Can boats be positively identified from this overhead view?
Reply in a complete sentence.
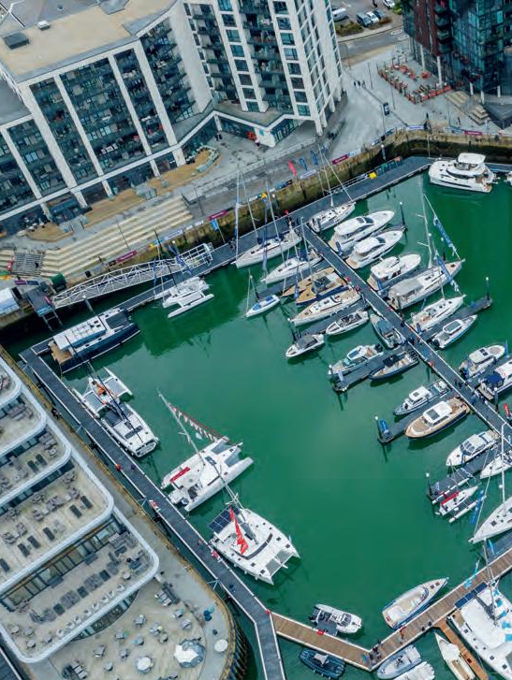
Yes, the photo shows a boat.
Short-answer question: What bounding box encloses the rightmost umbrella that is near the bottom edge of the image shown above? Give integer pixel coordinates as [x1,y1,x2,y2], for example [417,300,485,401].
[208,633,227,650]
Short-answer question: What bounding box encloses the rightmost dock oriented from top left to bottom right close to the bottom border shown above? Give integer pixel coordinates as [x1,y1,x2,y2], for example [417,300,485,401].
[435,618,491,680]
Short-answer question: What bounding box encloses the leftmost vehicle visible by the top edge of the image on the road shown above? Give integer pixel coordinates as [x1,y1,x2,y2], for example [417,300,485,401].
[334,7,350,20]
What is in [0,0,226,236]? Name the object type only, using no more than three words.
building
